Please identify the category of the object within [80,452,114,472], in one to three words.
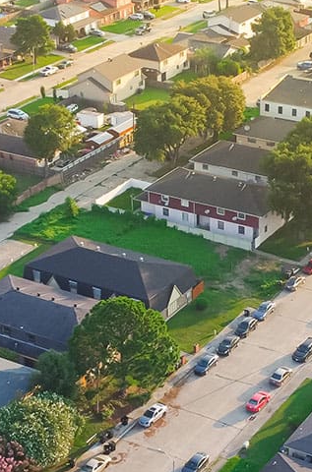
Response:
car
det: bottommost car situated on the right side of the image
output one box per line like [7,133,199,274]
[178,446,209,472]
